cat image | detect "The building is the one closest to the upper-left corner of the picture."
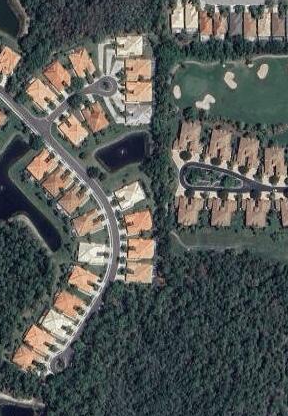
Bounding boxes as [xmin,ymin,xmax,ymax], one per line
[0,46,22,74]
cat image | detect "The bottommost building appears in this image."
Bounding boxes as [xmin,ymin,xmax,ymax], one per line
[12,345,41,370]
